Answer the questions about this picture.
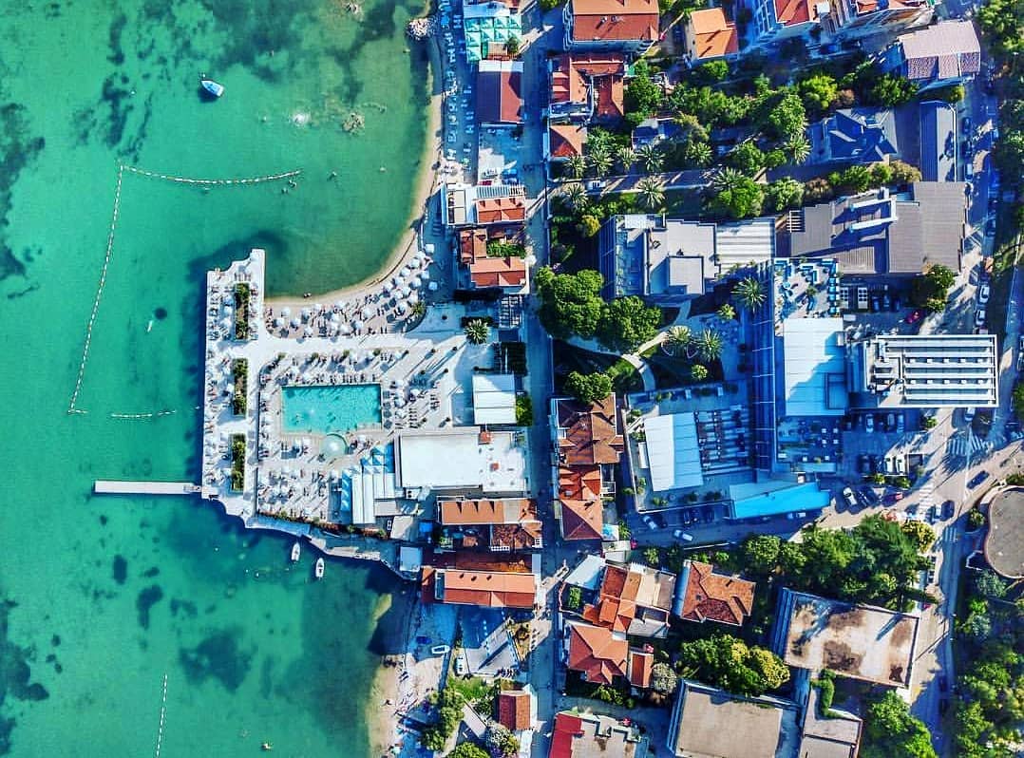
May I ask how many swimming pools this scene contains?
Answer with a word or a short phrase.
1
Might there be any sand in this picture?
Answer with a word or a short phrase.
Yes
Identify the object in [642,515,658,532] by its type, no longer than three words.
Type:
car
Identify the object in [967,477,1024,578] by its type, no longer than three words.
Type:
building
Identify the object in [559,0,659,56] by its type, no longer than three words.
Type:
house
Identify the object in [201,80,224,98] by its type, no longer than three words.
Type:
boat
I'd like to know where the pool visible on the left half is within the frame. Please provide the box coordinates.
[280,381,384,436]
